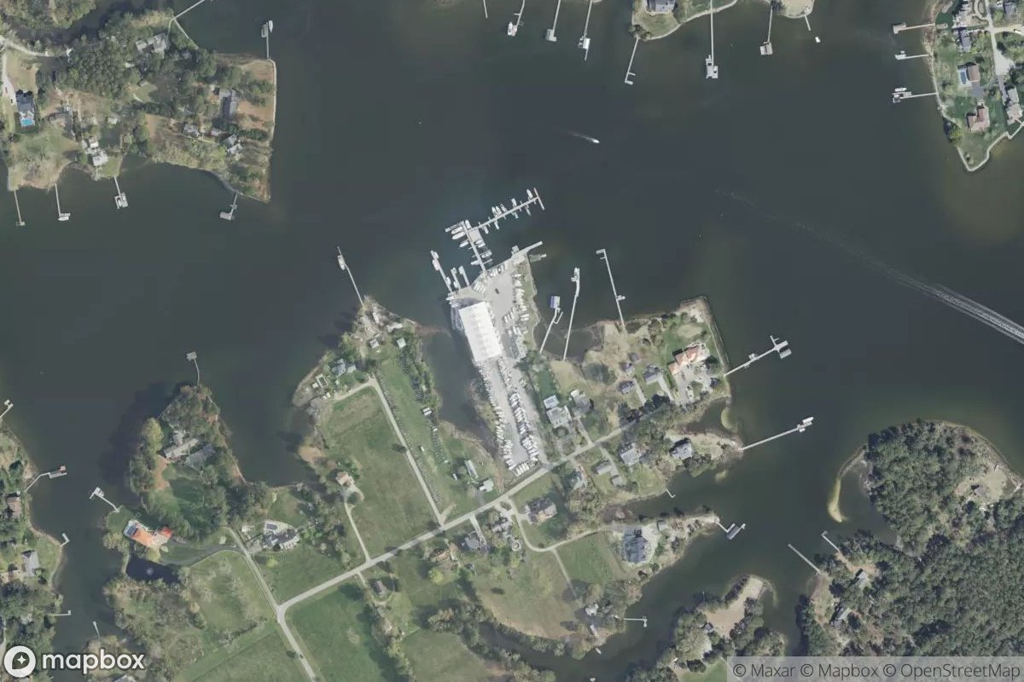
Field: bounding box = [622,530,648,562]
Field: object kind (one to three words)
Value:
house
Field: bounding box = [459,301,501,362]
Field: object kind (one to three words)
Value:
shed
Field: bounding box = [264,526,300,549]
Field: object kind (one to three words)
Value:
house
